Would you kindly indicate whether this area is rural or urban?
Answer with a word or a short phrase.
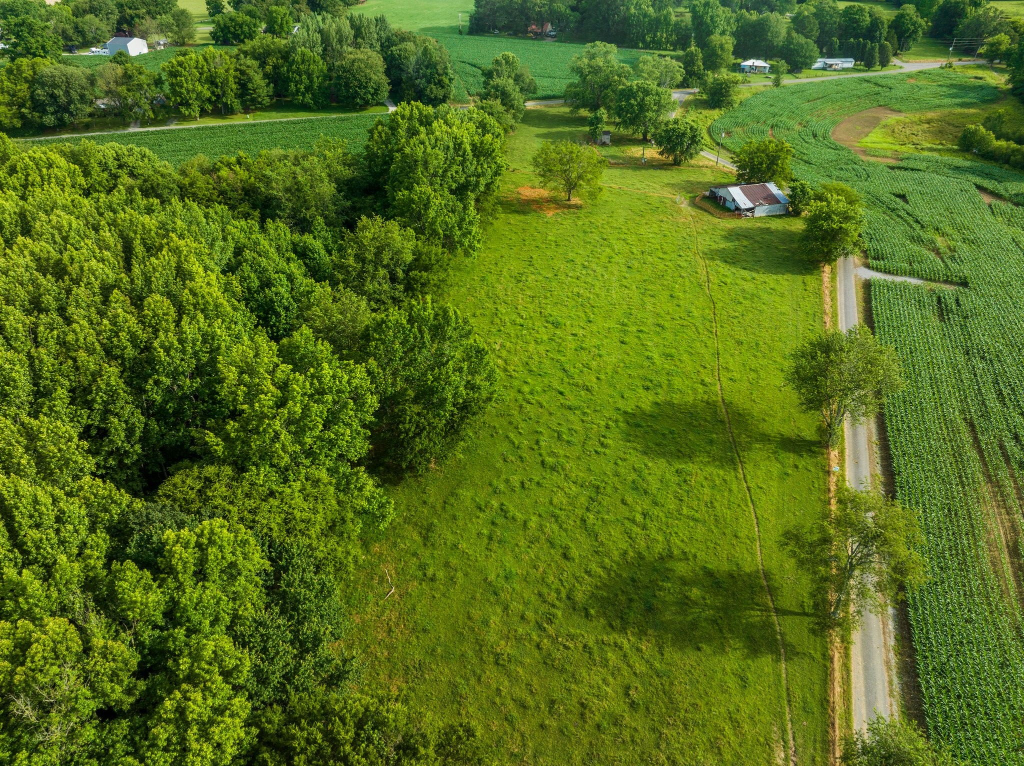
rural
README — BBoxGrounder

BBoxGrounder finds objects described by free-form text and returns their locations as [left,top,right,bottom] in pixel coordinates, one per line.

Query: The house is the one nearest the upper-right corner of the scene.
[805,55,856,70]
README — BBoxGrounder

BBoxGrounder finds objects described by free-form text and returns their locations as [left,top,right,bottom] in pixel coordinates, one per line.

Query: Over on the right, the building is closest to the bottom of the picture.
[718,179,793,217]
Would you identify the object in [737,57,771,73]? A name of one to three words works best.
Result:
house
